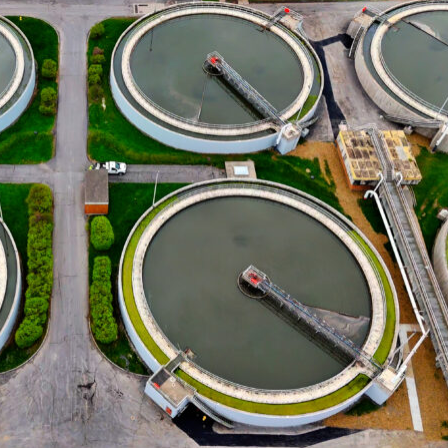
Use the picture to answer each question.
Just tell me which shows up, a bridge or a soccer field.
bridge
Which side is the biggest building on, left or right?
right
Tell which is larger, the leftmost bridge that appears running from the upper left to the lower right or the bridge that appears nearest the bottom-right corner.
the bridge that appears nearest the bottom-right corner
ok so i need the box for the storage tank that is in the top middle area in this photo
[109,3,324,157]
